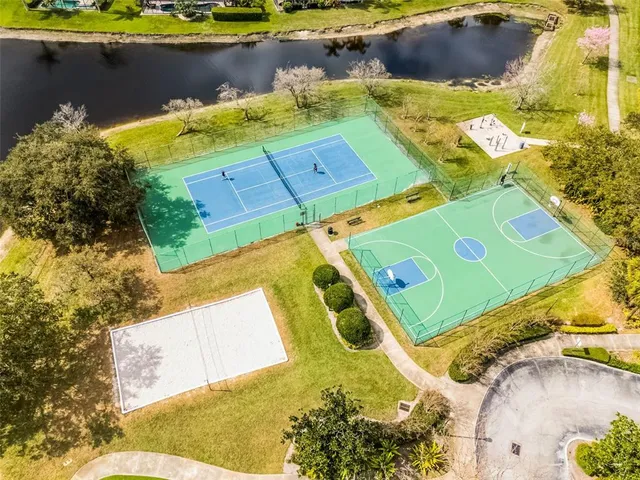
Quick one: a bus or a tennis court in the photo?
tennis court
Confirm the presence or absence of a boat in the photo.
No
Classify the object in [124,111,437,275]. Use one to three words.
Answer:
tennis court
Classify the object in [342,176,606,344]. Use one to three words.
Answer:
basketball court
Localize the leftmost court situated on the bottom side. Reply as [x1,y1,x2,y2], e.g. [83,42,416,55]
[110,287,289,414]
